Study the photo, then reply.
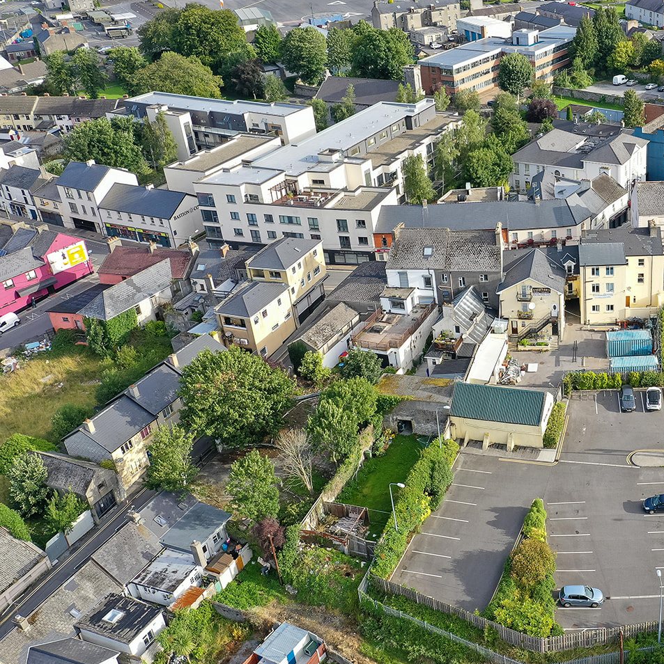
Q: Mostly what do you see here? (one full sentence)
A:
Most of the picture is covered by buildings.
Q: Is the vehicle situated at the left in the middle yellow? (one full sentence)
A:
No, the color of the vehicle situated at the left in the middle is white.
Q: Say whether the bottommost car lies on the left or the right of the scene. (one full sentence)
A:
You can find the bottommost car on the right side of the picture.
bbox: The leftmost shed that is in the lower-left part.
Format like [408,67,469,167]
[0,530,57,620]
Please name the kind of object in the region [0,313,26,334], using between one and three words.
vehicle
